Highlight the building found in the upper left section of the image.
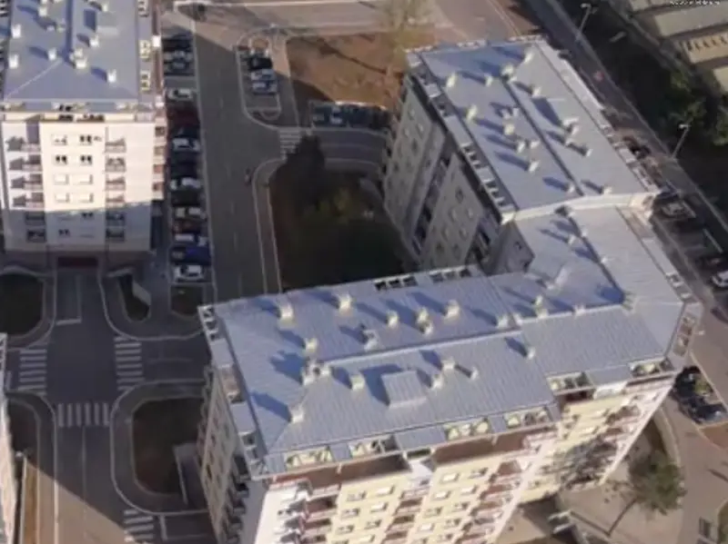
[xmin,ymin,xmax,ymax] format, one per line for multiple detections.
[0,0,160,266]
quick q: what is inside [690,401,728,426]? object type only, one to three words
car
